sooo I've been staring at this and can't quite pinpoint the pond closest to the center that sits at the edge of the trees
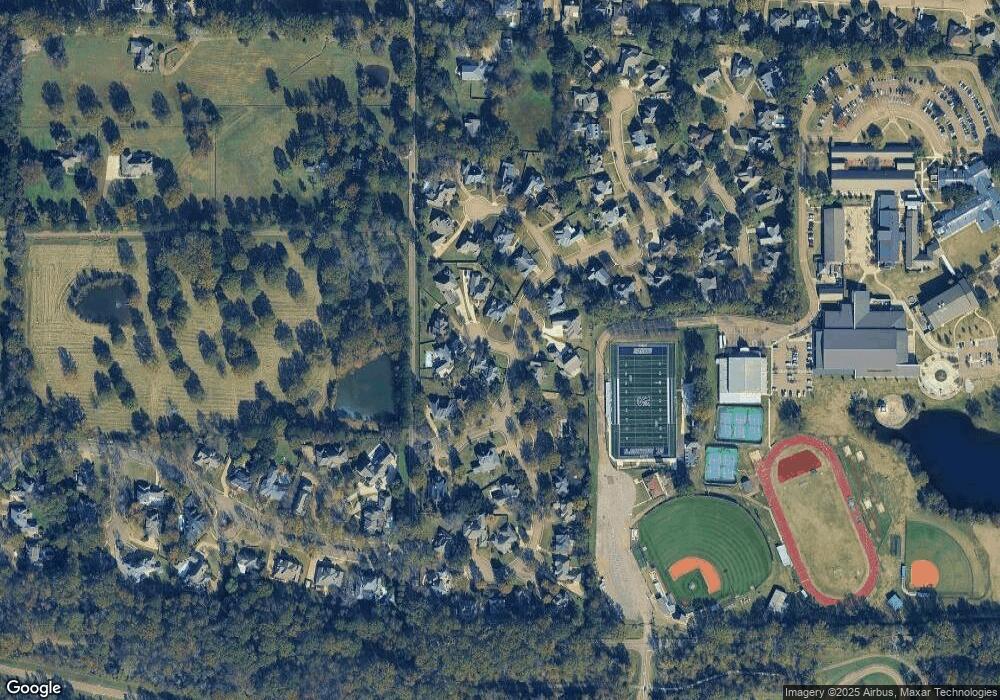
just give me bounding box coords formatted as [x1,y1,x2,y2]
[337,354,395,416]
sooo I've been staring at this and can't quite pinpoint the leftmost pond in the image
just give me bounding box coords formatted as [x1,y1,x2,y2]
[75,283,130,324]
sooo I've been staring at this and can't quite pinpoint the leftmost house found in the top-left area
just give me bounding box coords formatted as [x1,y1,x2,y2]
[57,150,79,175]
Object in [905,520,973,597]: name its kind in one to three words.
baseball field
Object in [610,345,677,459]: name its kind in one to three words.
sports field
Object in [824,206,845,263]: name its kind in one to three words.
building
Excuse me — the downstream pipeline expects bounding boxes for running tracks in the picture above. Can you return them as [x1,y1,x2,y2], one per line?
[761,435,878,605]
